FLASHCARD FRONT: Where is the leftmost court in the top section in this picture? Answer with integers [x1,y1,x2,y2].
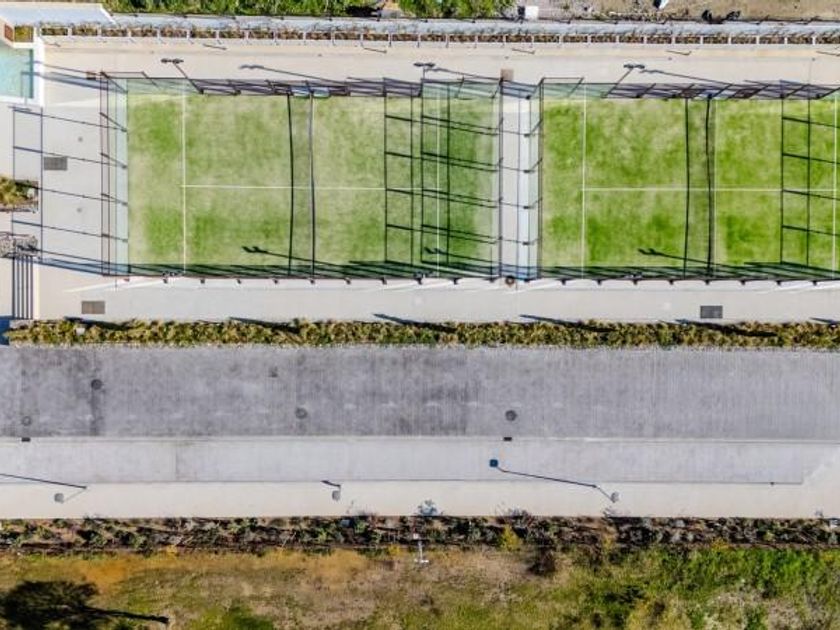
[98,72,504,285]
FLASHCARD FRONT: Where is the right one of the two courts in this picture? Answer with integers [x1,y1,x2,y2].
[523,76,840,287]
